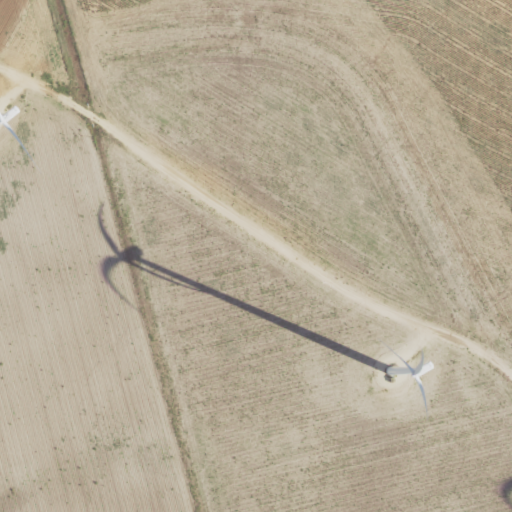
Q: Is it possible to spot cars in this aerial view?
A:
No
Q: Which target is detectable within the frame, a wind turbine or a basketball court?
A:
wind turbine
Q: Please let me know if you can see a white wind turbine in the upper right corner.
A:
No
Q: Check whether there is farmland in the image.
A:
Yes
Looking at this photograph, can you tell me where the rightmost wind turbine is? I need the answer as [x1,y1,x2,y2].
[386,343,434,422]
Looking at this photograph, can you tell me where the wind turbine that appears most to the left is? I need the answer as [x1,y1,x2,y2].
[0,107,36,168]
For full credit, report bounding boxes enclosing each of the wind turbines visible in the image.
[386,343,434,422]
[0,107,36,168]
